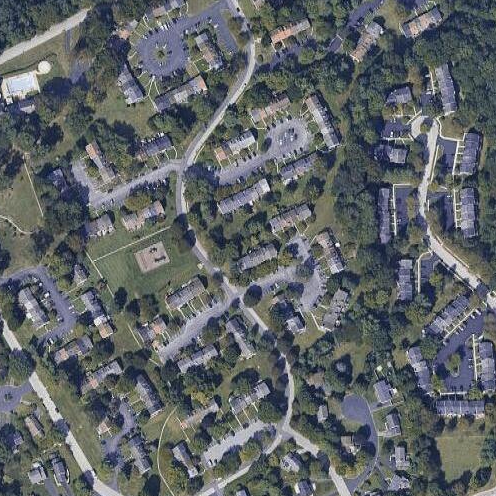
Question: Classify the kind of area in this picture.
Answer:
residential area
